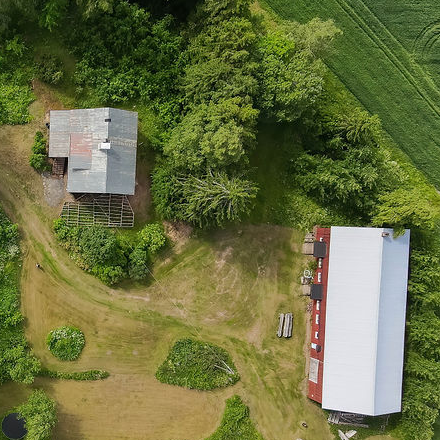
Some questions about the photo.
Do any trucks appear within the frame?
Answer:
No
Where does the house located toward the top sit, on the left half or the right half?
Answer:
left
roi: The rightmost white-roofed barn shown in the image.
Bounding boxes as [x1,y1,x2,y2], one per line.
[298,226,412,417]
